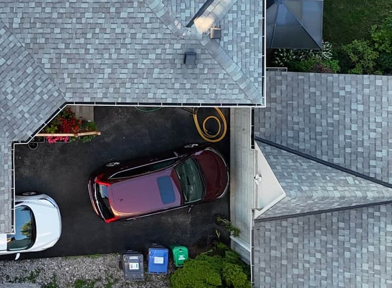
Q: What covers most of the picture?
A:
buildings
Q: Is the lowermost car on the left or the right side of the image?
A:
left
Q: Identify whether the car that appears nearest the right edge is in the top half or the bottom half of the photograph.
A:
bottom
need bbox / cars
[0,194,62,260]
[86,147,232,228]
